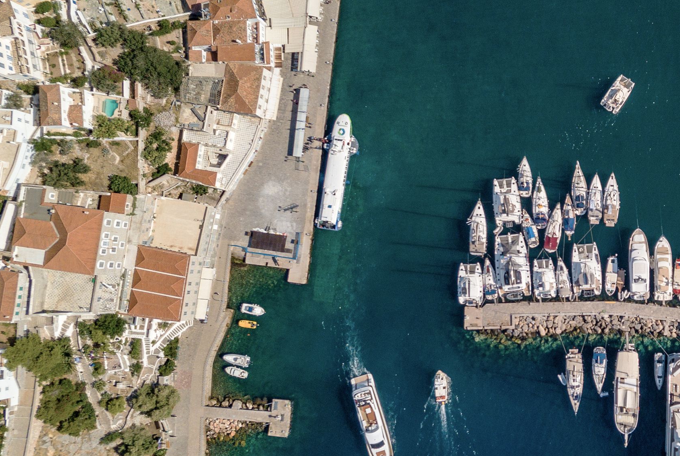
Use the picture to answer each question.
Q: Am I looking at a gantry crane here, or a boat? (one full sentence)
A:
The one in the frame is a boat.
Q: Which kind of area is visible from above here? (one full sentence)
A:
The picture captures a residential area.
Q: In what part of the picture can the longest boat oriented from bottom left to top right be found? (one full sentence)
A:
The longest boat oriented from bottom left to top right is located in the top right region of the scene.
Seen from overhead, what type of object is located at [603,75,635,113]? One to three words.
boat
